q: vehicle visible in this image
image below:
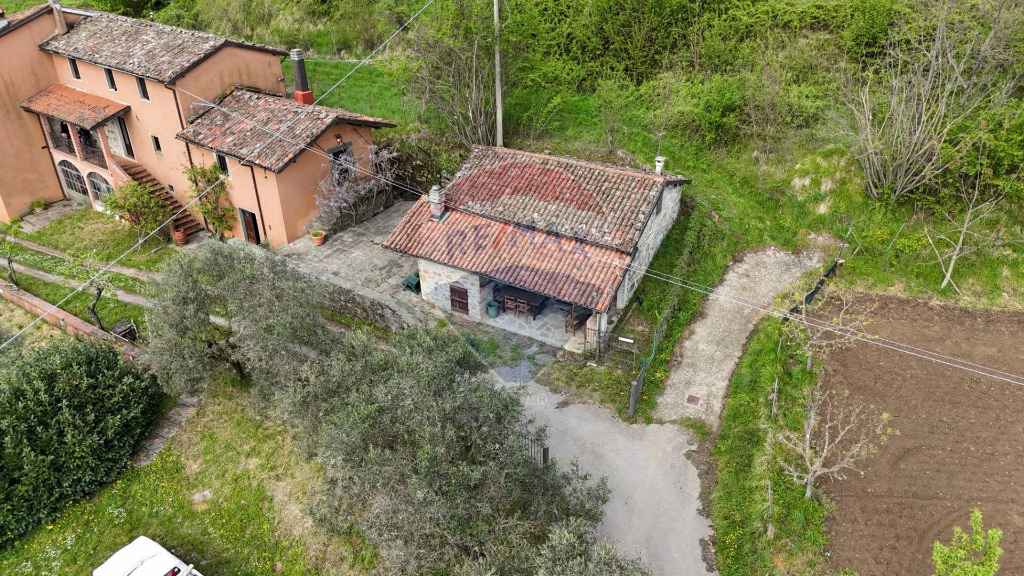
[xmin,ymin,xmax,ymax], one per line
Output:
[87,531,179,576]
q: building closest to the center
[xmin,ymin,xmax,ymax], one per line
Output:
[381,143,695,366]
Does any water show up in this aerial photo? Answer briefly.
No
